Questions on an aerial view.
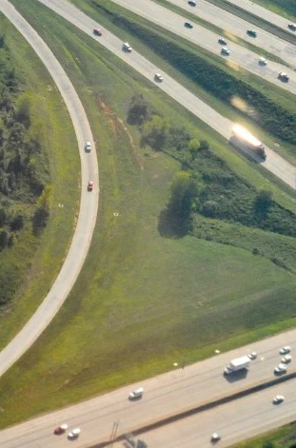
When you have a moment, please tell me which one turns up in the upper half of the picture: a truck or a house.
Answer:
truck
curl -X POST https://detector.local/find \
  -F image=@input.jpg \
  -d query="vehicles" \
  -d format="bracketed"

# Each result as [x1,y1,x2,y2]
[217,39,227,45]
[127,389,144,399]
[85,142,90,151]
[87,181,92,190]
[229,125,266,159]
[245,30,257,37]
[208,434,222,442]
[278,346,291,354]
[184,22,193,28]
[280,355,293,363]
[225,356,250,374]
[52,424,69,434]
[154,73,163,81]
[67,428,81,438]
[92,29,102,35]
[273,364,288,373]
[277,73,289,81]
[122,43,132,50]
[220,47,230,55]
[187,0,197,6]
[246,352,258,359]
[272,396,285,404]
[257,58,268,65]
